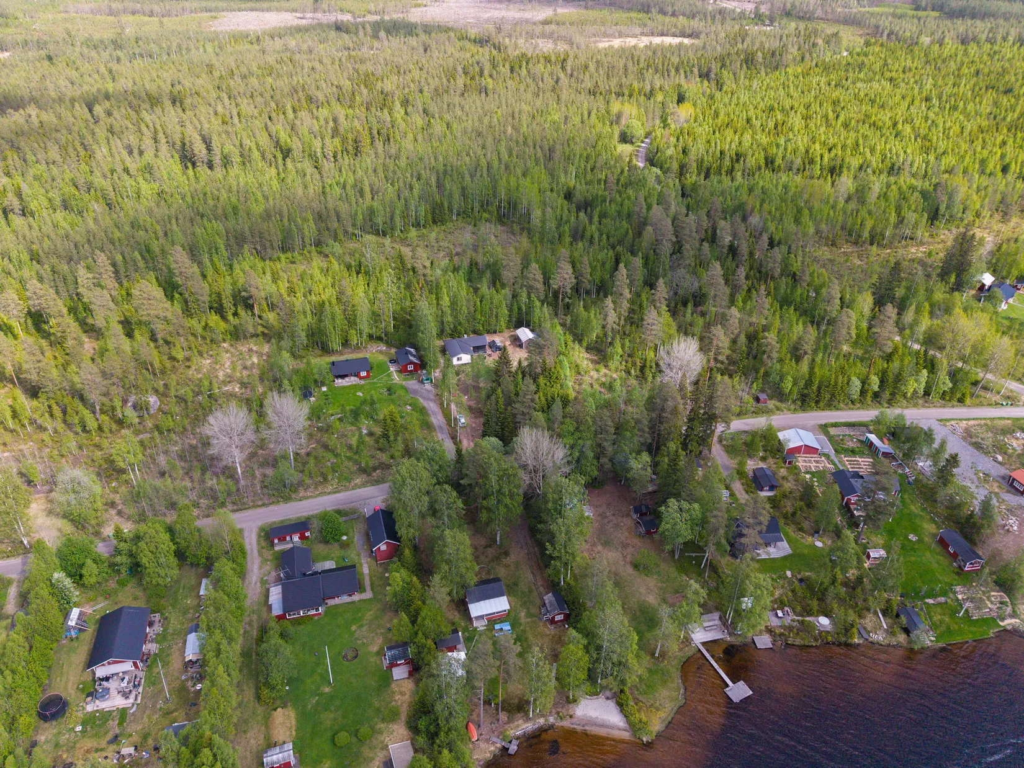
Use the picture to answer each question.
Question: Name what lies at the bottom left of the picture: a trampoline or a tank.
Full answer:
The one visible at the bottom left of the picture is a trampoline.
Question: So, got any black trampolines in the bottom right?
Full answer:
No, no black trampoline appears in the bottom right.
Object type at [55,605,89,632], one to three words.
greenhouse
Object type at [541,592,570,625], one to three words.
building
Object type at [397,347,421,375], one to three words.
shed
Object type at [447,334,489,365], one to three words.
house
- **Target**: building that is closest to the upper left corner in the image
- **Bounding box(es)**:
[330,357,371,387]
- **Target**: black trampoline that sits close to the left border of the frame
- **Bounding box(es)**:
[31,691,67,723]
